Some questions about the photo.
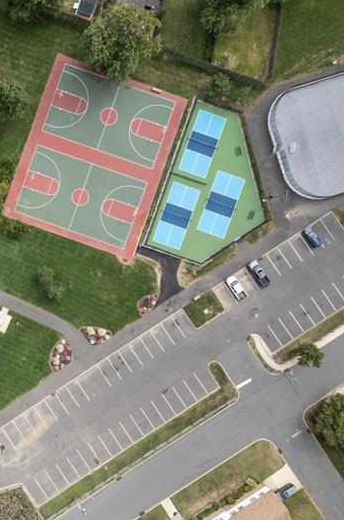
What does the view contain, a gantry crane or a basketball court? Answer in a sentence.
It is a basketball court that can be seen here.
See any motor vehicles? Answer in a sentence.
Yes, the photo shows a motor vehicle.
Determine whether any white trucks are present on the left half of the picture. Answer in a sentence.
No, looking on the left half of the picture, there is no white truck.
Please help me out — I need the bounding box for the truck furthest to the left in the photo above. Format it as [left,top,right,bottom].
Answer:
[225,274,248,301]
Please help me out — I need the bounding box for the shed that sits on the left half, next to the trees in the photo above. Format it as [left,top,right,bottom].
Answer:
[74,0,97,20]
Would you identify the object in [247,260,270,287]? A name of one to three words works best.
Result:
truck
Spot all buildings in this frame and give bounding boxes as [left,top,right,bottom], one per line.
[267,69,344,200]
[213,487,290,520]
[74,0,97,20]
